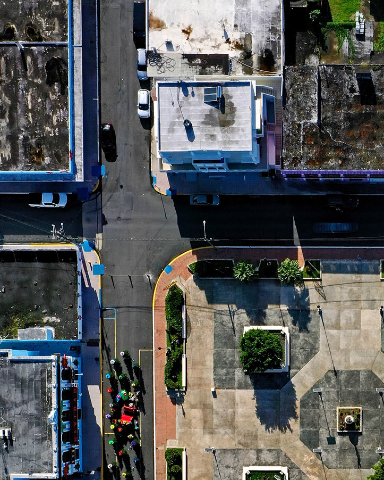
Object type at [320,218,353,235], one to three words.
car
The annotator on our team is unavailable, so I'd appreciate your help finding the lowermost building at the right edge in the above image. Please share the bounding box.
[281,64,384,193]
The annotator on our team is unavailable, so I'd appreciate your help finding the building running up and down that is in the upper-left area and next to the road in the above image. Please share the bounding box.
[0,0,84,183]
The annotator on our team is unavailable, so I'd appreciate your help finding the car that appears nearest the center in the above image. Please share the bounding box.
[191,193,222,209]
